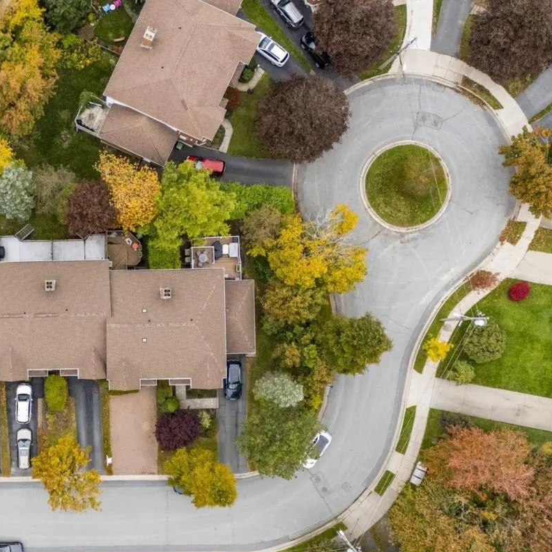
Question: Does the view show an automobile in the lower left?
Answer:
Yes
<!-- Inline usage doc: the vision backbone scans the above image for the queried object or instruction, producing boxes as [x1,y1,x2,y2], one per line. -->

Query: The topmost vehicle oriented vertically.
[224,360,243,398]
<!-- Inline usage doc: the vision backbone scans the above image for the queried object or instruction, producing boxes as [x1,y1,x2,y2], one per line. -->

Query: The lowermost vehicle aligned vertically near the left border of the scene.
[14,428,34,468]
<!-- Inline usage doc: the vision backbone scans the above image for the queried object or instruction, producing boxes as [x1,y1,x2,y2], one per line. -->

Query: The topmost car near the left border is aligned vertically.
[13,382,33,422]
